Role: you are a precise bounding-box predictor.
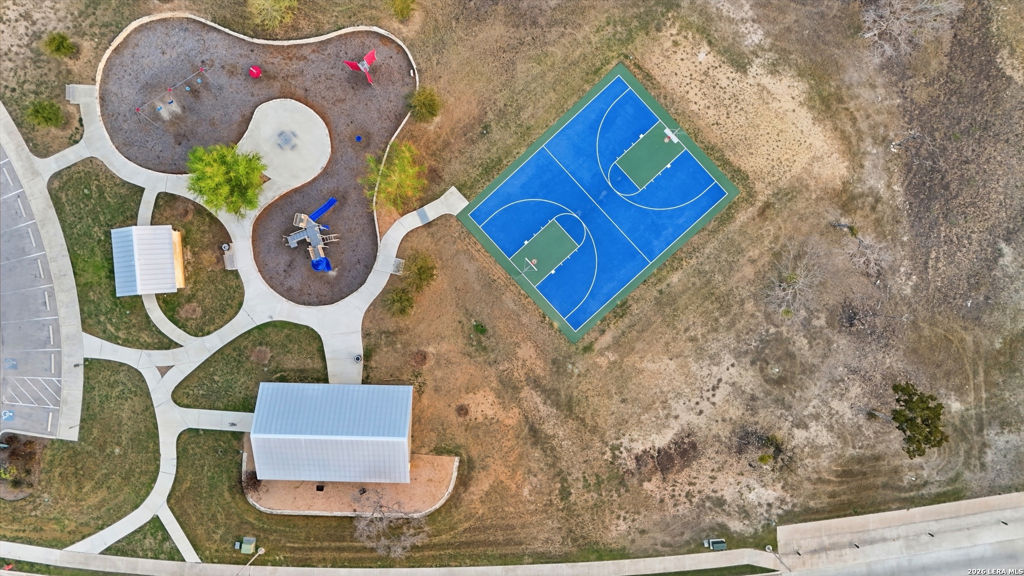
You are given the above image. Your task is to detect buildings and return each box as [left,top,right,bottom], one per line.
[111,224,188,297]
[248,382,415,484]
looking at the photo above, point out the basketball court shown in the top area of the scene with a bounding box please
[459,62,740,343]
